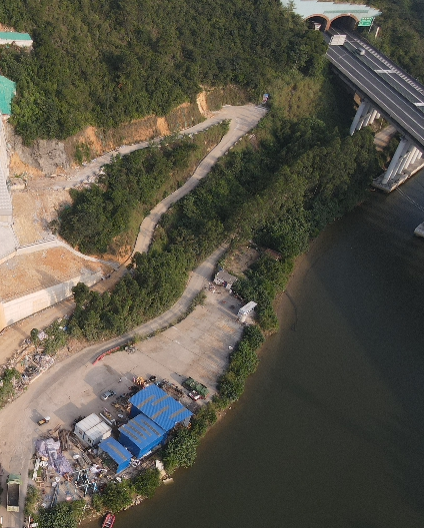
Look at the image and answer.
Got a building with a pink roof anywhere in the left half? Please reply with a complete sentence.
No, no building with a pink roof can be made out in the left half.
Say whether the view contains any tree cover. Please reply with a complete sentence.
Yes, there is tree cover in the image.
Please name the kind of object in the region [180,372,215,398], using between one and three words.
truck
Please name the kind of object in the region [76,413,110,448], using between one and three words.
building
